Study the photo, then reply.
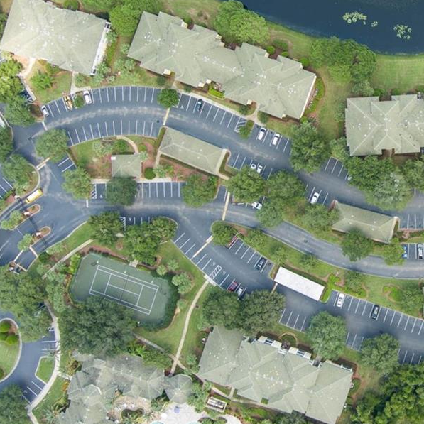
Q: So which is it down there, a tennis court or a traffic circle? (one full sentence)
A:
Looking from above, you can make out a tennis court.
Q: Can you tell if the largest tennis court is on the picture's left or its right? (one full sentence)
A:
The largest tennis court sits on the left side.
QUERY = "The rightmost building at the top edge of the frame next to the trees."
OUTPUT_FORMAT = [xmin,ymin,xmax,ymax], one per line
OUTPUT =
[128,11,316,119]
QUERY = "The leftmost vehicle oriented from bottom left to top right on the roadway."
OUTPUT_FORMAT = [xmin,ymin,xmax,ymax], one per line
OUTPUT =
[26,189,44,203]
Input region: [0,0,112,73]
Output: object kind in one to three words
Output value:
building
